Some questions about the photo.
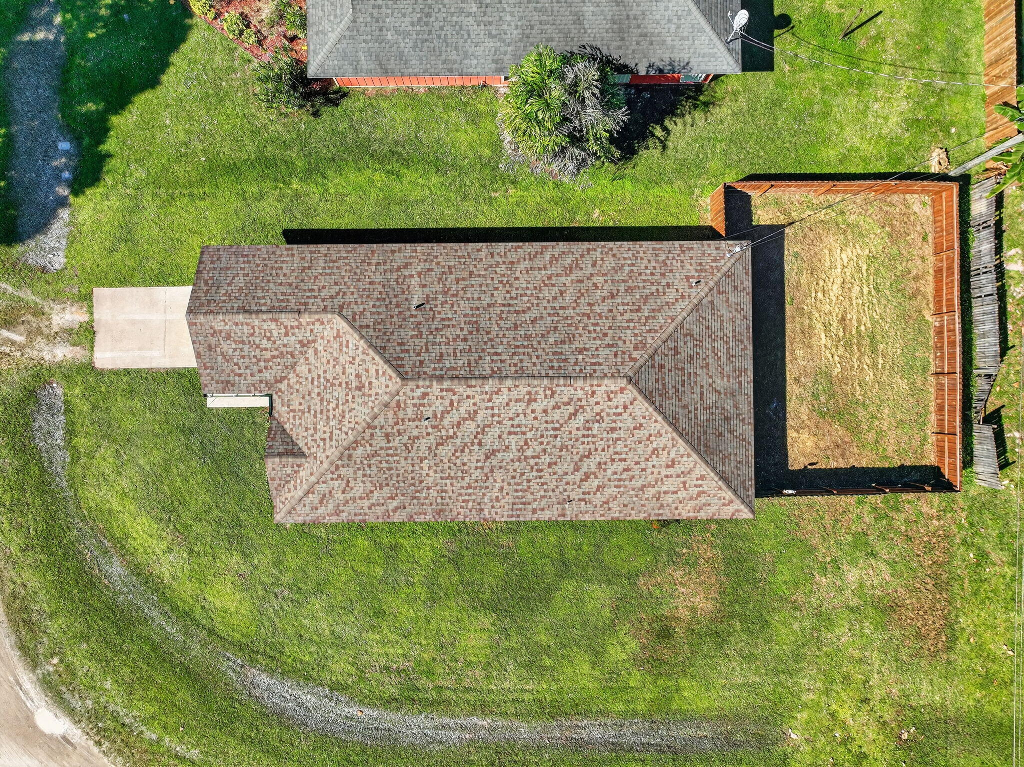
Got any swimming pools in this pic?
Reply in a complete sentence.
No, the picture doesn't show any swimming pool.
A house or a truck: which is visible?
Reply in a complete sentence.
Of the two, only a house appears.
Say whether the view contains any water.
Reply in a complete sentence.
No, the scene doesn't show any water.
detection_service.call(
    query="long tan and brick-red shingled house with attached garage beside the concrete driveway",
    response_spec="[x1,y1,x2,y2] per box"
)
[187,242,754,524]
